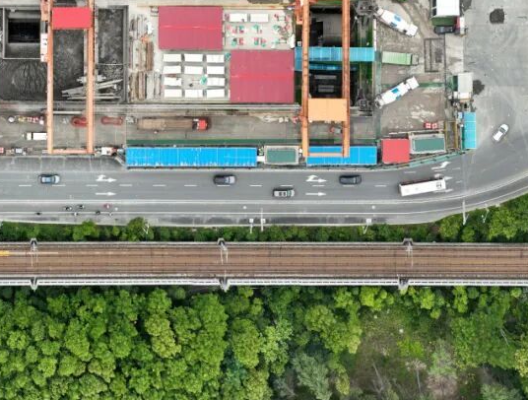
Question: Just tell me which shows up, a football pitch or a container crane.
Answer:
container crane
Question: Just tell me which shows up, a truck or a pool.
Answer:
truck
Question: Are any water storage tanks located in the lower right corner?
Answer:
No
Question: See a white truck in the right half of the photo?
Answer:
Yes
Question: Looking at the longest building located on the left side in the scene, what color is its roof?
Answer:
blue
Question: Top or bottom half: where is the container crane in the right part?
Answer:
top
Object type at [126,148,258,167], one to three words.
building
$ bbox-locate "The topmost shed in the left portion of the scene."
[157,7,223,50]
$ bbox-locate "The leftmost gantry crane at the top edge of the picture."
[41,0,99,155]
